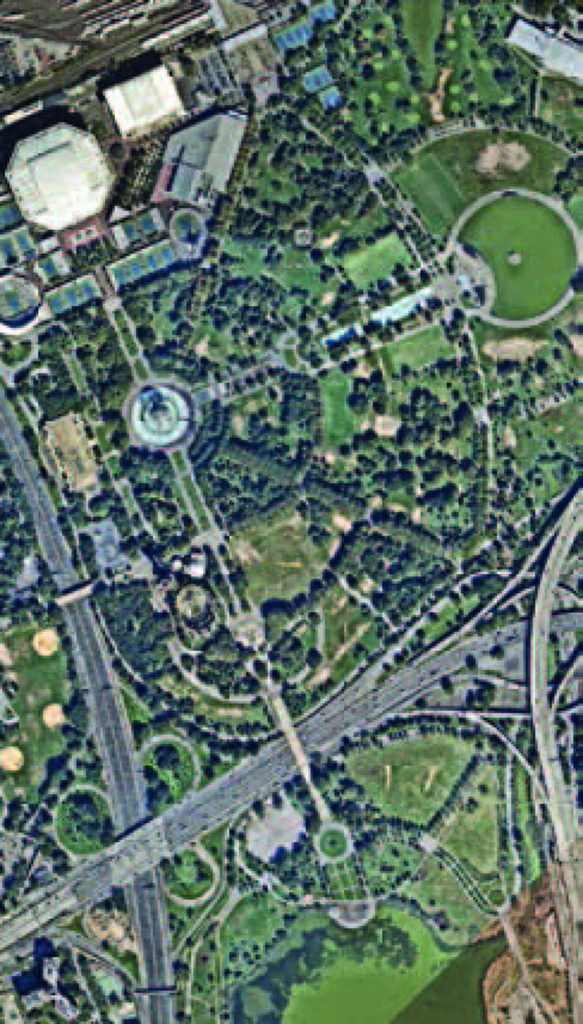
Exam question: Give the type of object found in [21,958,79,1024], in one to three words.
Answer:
building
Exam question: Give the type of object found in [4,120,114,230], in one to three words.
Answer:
stadium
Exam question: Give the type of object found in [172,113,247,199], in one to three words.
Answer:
building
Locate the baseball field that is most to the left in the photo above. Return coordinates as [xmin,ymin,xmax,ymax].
[0,743,26,774]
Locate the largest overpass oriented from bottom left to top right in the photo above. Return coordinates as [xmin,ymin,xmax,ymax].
[108,807,190,882]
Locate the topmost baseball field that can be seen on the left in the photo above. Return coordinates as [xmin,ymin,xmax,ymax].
[31,627,61,657]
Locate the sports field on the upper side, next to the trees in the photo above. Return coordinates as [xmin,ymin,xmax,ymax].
[396,155,463,231]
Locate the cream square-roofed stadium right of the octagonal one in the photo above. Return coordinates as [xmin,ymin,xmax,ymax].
[104,62,184,138]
